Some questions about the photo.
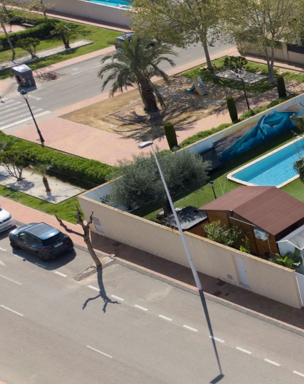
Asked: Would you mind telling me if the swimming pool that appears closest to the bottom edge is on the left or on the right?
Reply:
right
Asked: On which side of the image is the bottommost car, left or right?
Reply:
left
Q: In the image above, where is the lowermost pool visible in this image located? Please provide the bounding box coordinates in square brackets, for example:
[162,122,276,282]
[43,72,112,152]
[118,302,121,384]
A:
[229,131,303,188]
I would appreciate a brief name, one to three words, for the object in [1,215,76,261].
car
